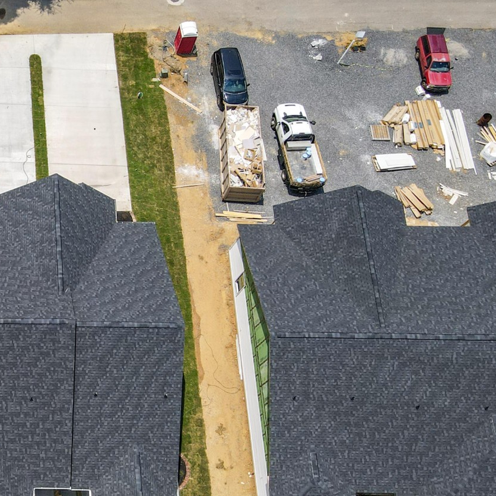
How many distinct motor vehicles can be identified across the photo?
3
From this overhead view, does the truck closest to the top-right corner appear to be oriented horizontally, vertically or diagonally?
vertically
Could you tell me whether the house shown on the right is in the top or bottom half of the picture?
bottom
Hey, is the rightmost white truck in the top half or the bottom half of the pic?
top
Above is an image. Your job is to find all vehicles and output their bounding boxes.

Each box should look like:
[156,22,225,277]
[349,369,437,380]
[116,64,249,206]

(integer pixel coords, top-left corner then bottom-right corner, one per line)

[415,24,452,96]
[268,101,325,191]
[211,49,250,107]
